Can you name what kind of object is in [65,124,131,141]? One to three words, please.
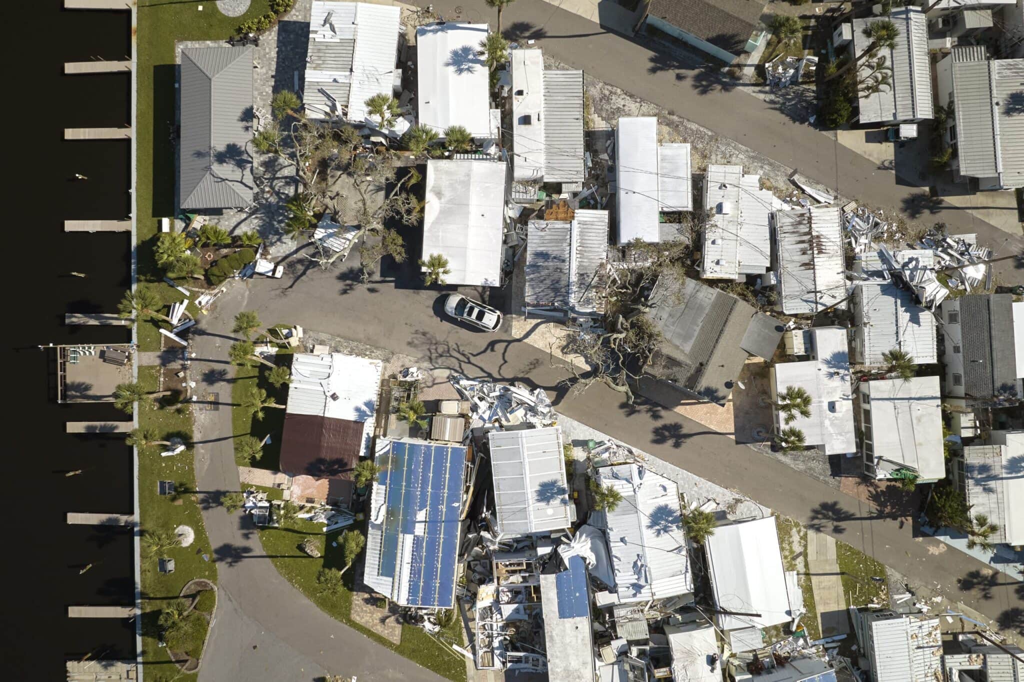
pier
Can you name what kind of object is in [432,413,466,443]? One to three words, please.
shed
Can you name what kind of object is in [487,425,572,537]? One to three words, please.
house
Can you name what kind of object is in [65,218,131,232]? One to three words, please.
pier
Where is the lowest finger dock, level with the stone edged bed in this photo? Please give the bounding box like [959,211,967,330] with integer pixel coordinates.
[68,604,135,623]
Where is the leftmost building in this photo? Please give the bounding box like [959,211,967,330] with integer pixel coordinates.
[180,46,254,210]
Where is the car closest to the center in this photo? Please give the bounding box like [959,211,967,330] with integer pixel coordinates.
[440,292,507,335]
